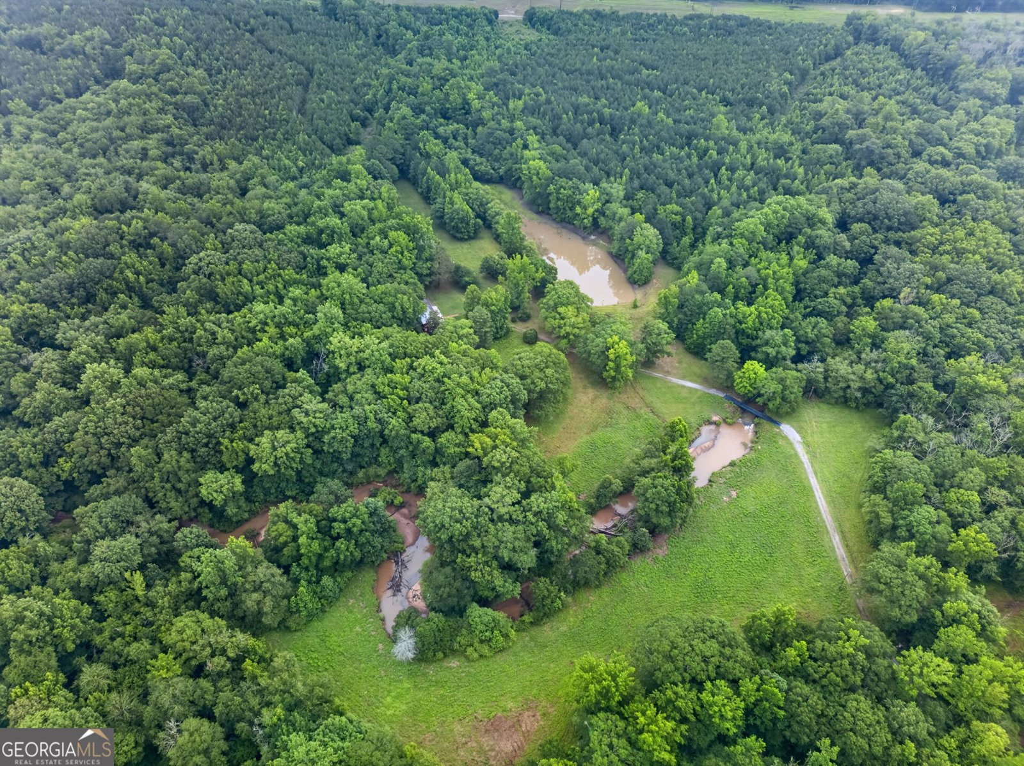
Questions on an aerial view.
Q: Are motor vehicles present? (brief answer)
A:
No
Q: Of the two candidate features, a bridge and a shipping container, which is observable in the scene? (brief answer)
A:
bridge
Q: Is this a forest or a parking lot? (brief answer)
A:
forest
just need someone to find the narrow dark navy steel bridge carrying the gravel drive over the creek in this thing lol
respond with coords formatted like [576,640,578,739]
[721,391,790,429]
